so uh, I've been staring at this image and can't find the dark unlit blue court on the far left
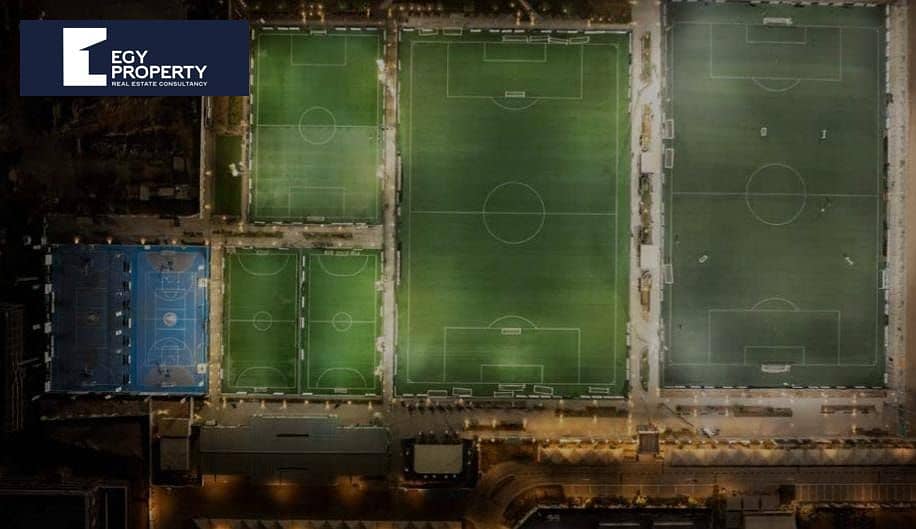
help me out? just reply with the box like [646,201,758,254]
[49,245,128,393]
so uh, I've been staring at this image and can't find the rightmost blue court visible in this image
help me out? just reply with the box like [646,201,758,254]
[129,245,207,394]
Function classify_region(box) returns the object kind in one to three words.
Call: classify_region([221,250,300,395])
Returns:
soccer field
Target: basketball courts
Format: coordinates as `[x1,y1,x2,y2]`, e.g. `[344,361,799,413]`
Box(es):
[49,245,128,393]
[129,245,207,394]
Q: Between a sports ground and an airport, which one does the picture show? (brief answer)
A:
sports ground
